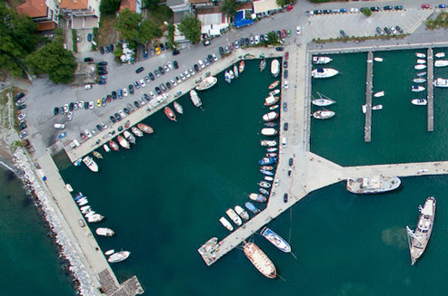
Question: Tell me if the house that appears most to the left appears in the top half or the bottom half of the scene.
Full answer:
The house that appears most to the left is in the top half of the image.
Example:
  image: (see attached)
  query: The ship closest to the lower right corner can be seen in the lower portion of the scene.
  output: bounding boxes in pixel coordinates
[406,197,437,267]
